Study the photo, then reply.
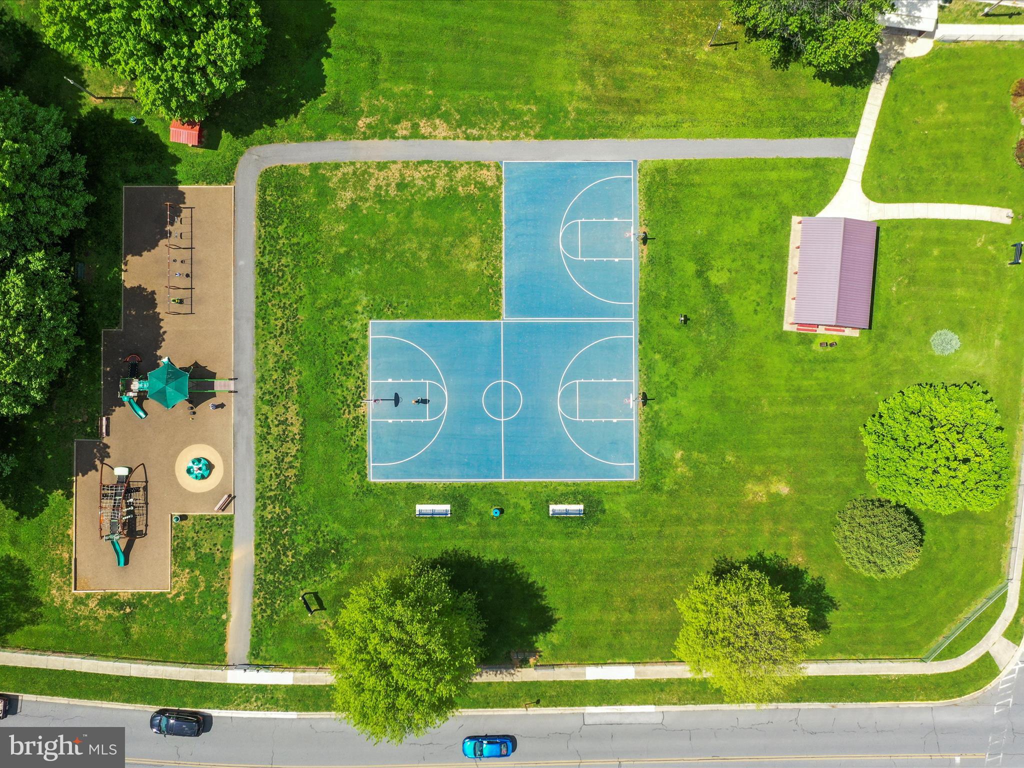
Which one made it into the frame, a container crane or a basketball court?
basketball court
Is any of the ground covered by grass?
Yes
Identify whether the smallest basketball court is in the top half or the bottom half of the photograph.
top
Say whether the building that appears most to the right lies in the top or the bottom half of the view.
top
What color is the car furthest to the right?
blue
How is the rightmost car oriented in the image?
horizontally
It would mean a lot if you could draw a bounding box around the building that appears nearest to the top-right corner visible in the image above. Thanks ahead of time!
[876,0,939,38]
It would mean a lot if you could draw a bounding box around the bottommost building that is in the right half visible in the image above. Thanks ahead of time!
[784,216,876,336]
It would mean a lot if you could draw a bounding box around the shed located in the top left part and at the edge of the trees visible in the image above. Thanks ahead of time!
[168,118,206,150]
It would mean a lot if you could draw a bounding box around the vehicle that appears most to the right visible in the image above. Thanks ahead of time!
[464,732,513,758]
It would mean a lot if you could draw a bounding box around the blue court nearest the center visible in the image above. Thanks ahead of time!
[368,320,640,482]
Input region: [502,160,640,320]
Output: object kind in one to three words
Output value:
basketball court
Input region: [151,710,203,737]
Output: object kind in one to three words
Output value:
car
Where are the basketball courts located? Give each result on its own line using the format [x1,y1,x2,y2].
[502,160,640,320]
[368,320,640,482]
